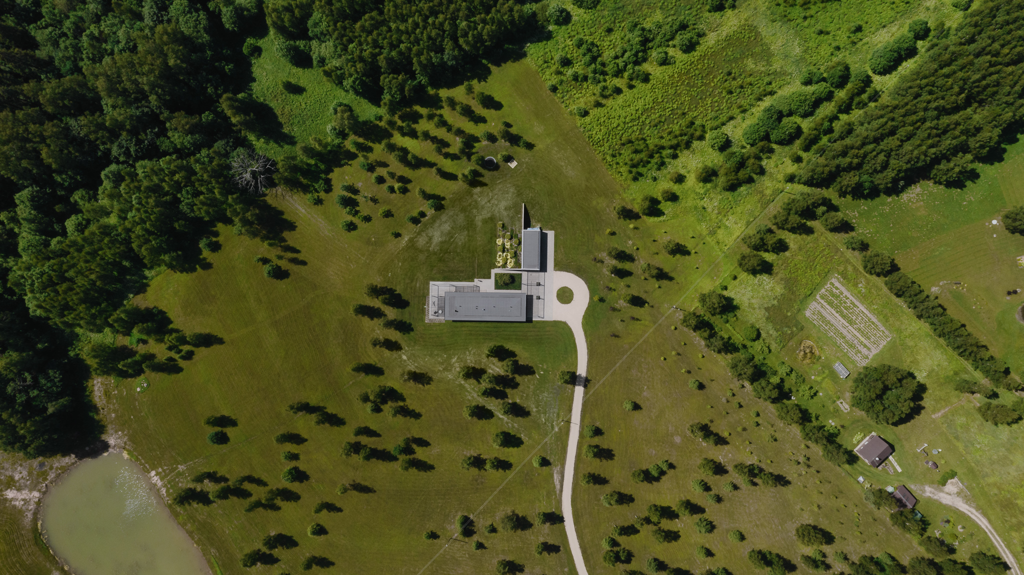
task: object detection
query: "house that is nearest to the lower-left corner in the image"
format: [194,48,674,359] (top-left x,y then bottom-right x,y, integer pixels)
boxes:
[445,292,526,320]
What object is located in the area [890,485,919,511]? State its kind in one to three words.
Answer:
building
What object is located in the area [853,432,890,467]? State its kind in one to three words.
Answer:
house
